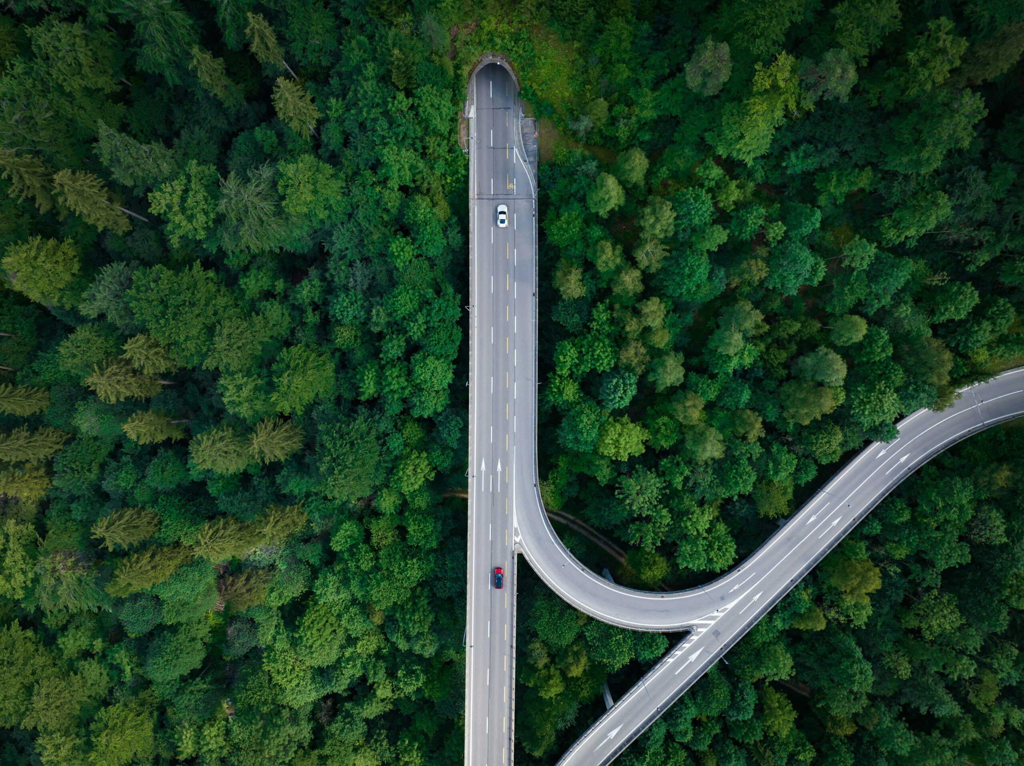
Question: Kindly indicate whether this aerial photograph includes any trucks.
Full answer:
No, there appears to be no truck in this shot.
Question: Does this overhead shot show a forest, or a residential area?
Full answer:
This image shows a forest.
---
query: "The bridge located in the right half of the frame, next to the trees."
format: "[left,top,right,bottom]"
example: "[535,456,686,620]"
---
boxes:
[464,104,1024,766]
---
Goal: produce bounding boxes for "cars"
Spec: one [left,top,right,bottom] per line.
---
[498,203,507,227]
[494,568,504,590]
